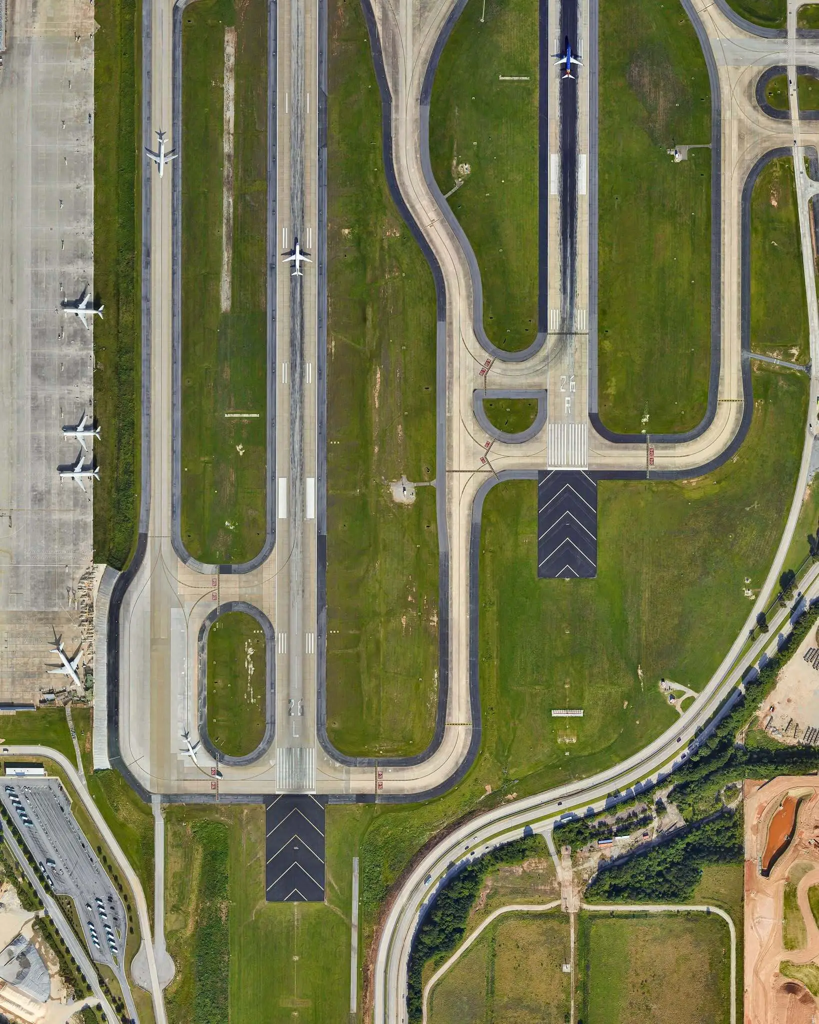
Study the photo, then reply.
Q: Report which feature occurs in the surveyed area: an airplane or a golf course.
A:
airplane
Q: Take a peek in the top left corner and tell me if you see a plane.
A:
Yes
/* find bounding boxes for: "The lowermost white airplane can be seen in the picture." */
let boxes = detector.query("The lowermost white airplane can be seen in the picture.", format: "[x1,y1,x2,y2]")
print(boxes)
[181,740,201,764]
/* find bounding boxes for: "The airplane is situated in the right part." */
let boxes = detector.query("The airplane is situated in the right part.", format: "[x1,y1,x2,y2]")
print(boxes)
[553,47,584,78]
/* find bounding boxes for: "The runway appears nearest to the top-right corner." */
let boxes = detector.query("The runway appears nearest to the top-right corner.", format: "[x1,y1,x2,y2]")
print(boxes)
[538,0,599,470]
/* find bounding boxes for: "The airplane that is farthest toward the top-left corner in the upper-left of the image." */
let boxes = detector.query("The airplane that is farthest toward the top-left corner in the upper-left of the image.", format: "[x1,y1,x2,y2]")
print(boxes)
[146,138,178,177]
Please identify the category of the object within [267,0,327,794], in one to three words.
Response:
runway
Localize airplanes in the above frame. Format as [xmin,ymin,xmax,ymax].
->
[63,293,103,329]
[181,740,201,764]
[60,455,98,493]
[63,415,100,452]
[146,138,178,177]
[282,243,313,275]
[553,47,584,78]
[48,644,85,686]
